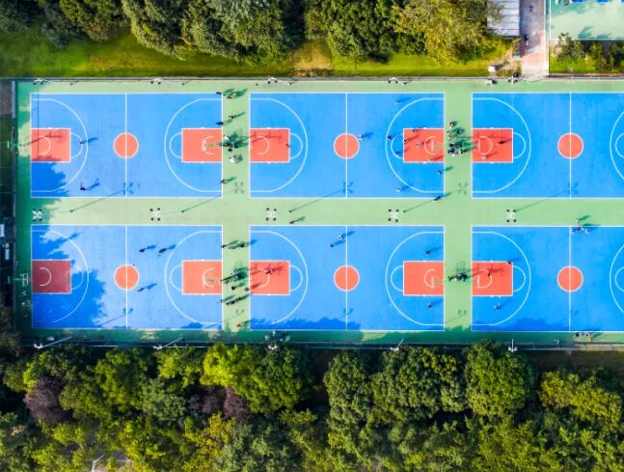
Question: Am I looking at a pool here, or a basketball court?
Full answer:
I can see a basketball court in this picture.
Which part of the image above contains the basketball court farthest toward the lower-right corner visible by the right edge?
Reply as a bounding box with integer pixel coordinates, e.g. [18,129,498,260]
[471,226,624,332]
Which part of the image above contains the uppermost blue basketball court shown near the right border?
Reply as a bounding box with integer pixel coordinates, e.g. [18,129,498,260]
[472,92,624,199]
